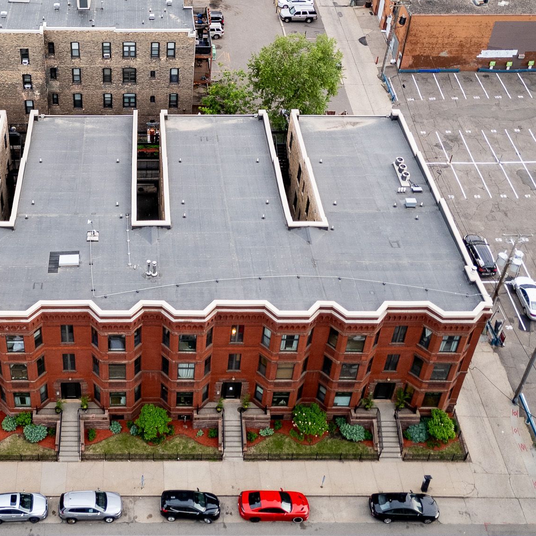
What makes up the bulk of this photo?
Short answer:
buildings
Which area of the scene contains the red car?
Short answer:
bottom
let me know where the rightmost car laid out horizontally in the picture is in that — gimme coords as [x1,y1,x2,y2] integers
[362,492,436,527]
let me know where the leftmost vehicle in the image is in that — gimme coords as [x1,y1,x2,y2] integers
[0,491,52,527]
